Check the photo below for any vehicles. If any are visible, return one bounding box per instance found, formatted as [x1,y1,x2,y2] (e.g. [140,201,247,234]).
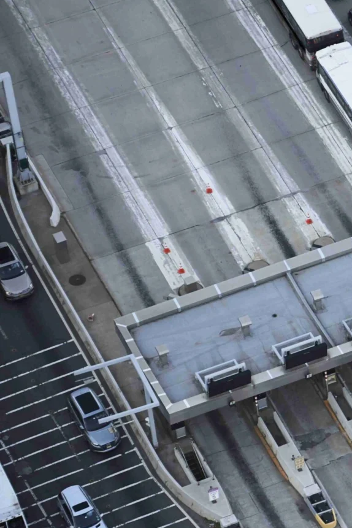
[313,51,352,132]
[268,0,344,71]
[58,485,108,528]
[0,472,26,528]
[0,240,36,296]
[67,388,121,451]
